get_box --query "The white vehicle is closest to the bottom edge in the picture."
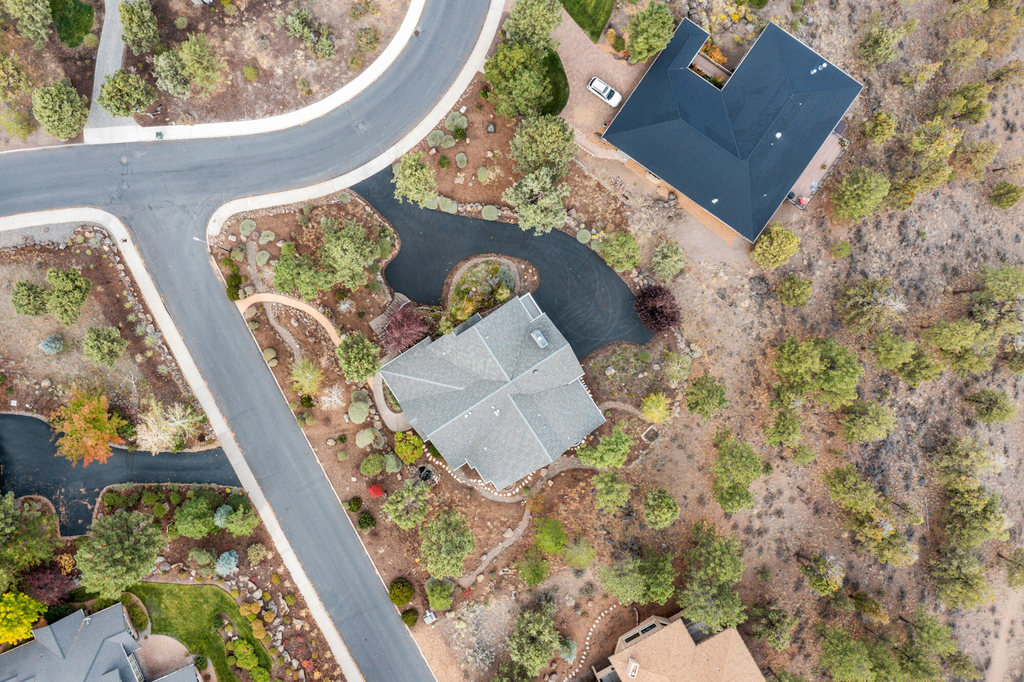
[586,75,623,108]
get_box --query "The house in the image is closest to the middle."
[379,293,607,492]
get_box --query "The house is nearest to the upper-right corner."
[601,17,864,244]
